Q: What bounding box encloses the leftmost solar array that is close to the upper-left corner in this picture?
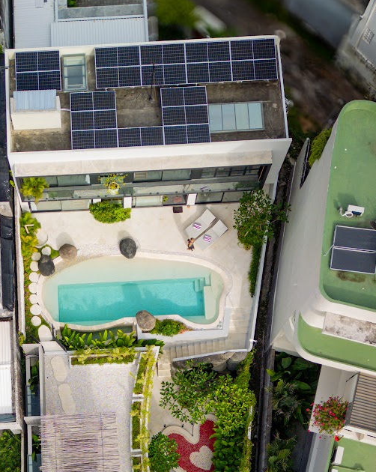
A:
[15,48,63,91]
